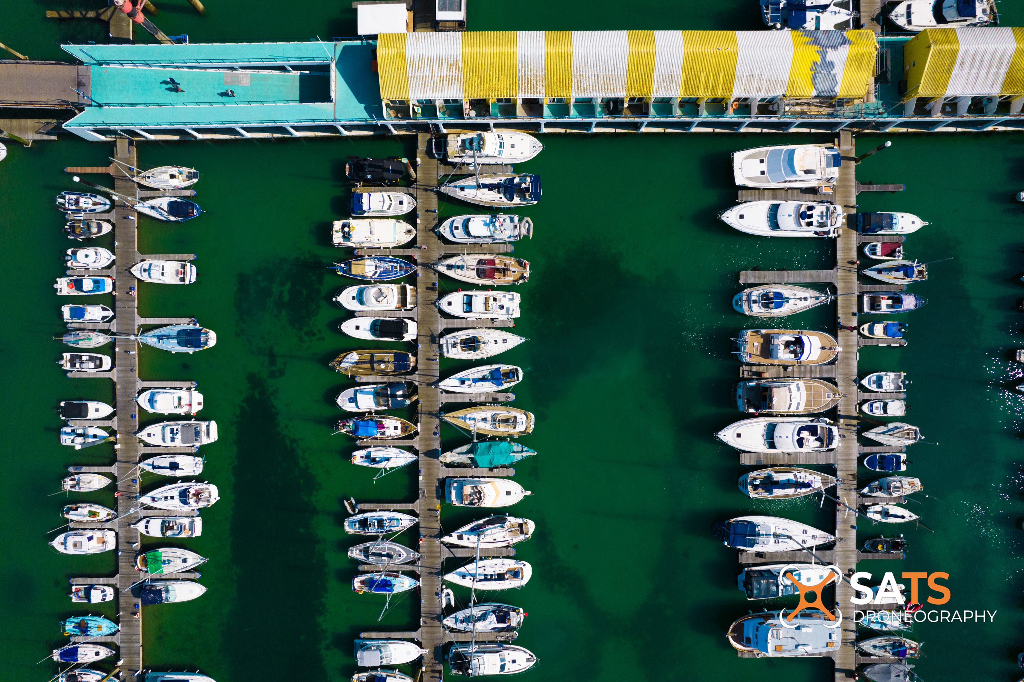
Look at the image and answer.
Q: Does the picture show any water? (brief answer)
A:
Yes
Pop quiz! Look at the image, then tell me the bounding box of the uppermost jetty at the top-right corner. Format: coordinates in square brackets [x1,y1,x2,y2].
[859,0,881,36]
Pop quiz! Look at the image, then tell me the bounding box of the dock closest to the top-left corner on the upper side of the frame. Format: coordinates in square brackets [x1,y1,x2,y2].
[47,0,134,42]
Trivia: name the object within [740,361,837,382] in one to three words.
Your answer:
pier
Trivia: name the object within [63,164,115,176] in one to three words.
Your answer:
pier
